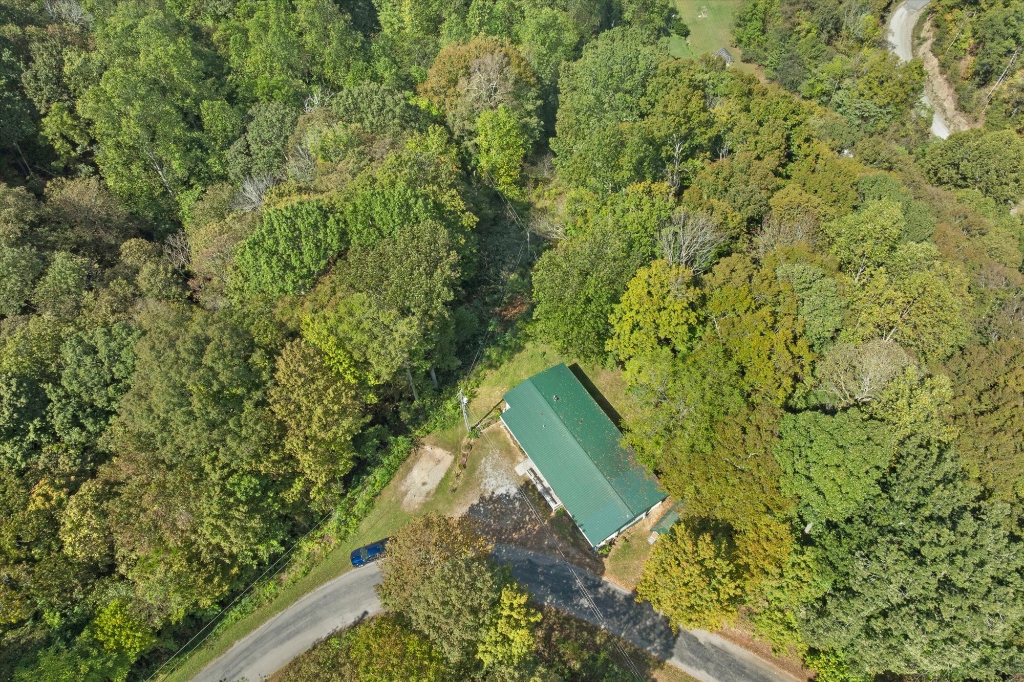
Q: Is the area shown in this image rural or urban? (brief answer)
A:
rural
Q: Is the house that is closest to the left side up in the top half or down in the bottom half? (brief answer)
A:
bottom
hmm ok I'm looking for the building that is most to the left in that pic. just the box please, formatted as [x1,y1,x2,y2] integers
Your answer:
[499,363,670,557]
